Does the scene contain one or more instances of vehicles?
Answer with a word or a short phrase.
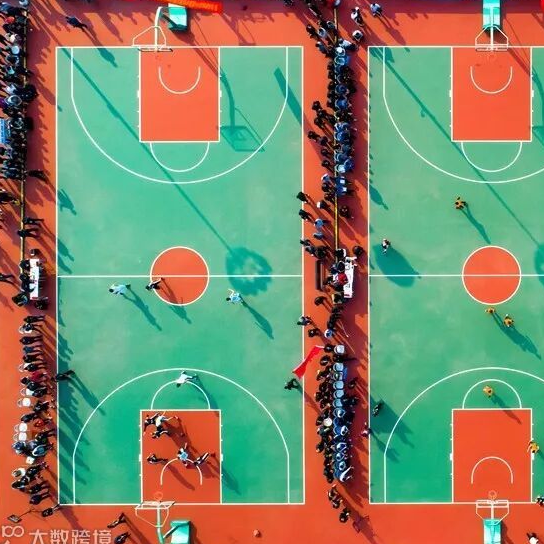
No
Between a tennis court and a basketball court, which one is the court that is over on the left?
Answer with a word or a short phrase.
basketball court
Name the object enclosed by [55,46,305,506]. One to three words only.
basketball court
